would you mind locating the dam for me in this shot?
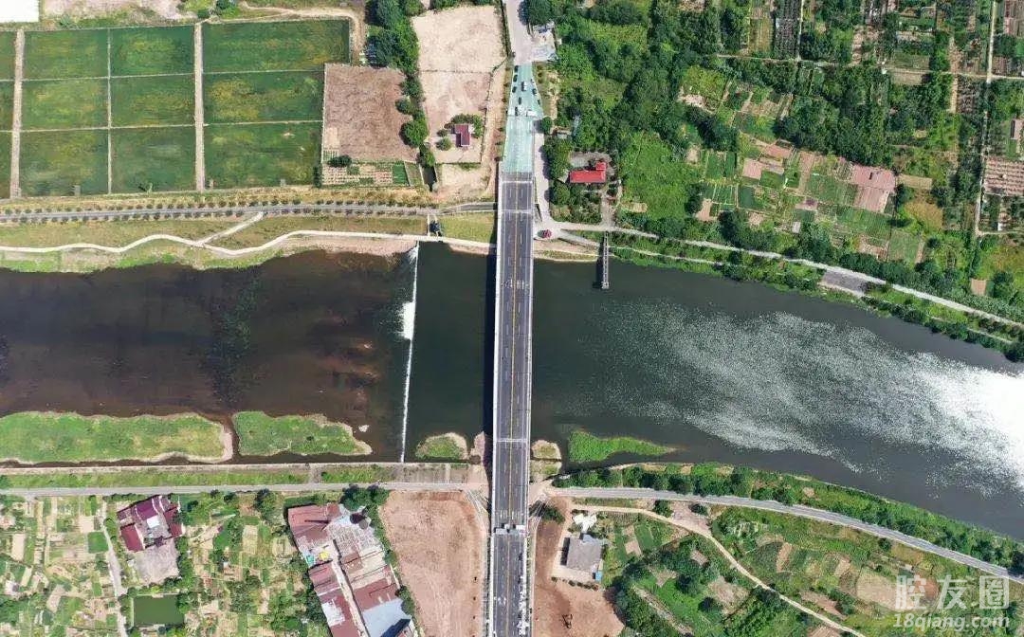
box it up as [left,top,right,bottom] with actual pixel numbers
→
[383,243,419,463]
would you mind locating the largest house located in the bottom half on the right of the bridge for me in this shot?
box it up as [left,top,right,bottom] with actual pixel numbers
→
[567,536,601,572]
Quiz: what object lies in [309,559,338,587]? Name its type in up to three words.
shed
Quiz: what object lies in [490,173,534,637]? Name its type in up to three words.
bridge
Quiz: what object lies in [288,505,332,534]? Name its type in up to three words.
shed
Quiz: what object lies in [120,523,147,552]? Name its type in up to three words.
house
